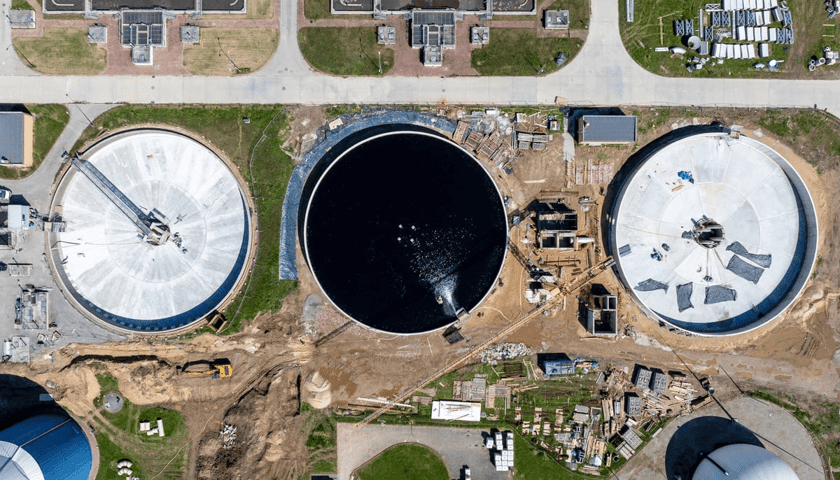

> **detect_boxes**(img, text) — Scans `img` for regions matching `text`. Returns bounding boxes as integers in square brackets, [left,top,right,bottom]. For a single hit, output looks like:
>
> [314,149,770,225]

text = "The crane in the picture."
[354,256,614,431]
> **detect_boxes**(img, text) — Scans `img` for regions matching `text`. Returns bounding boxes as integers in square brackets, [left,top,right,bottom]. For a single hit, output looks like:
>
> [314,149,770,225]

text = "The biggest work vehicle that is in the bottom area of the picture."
[177,365,231,382]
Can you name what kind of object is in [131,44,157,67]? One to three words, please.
building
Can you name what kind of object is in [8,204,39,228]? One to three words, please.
building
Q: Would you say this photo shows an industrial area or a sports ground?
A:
industrial area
